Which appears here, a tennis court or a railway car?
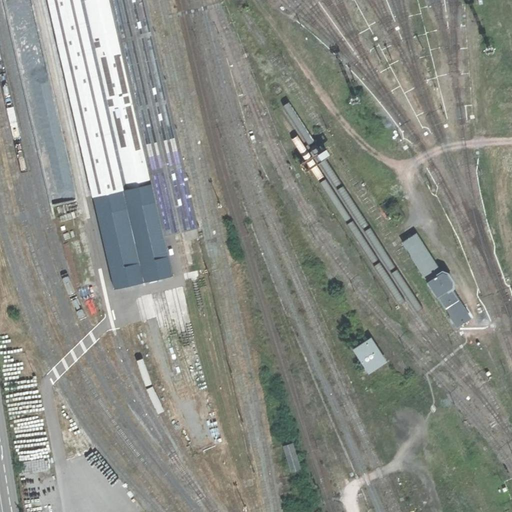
railway car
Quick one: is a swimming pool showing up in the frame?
No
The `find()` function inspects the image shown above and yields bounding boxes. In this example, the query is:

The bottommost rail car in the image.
[148,387,164,415]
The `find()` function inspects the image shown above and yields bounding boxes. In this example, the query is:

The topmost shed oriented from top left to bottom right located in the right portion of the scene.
[403,233,438,278]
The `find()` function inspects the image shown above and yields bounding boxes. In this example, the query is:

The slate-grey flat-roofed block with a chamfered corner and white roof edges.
[428,272,472,328]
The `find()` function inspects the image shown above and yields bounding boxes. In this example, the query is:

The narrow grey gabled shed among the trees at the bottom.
[283,444,302,474]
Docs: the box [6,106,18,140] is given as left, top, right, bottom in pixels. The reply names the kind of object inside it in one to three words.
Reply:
rail car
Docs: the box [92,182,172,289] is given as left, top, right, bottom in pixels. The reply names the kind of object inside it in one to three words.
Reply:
shed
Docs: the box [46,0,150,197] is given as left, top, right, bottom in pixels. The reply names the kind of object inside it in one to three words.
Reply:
building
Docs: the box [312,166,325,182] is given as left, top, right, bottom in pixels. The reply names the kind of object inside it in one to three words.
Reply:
rail car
